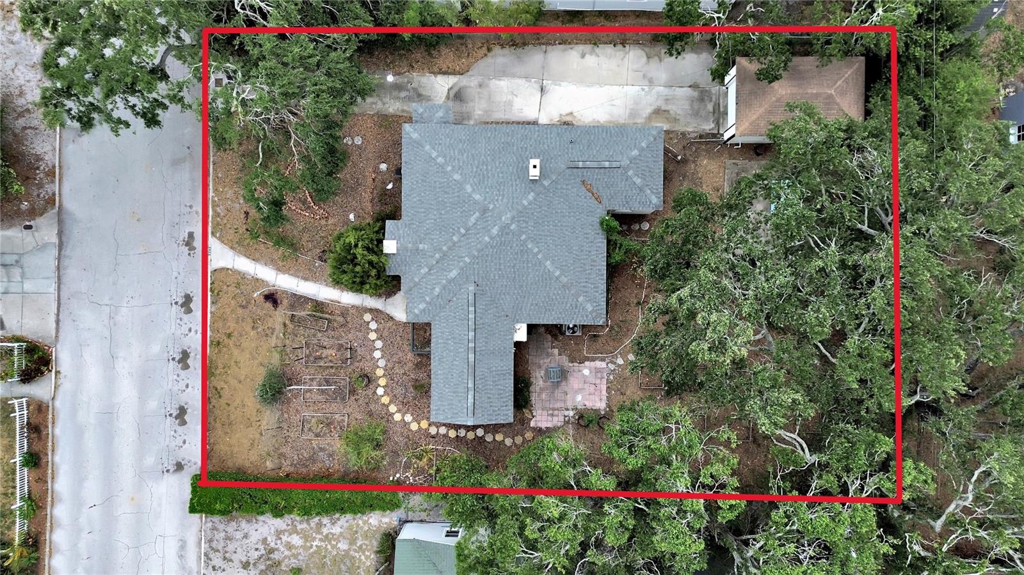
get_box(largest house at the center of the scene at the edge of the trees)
[383,102,664,427]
